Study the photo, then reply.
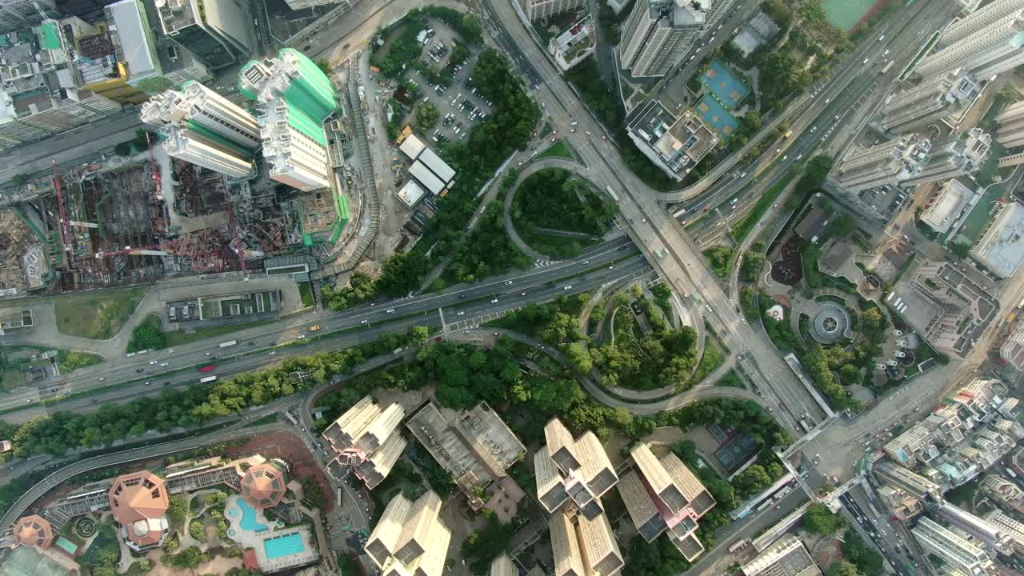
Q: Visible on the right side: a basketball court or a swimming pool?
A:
basketball court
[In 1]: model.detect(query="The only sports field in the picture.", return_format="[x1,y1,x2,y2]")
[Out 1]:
[819,0,884,34]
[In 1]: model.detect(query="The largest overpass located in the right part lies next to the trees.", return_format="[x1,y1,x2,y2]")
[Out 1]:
[577,134,706,290]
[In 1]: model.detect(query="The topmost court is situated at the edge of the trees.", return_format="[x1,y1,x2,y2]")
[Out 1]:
[700,59,751,109]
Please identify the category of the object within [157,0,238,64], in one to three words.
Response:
building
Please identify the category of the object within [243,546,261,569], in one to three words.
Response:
shed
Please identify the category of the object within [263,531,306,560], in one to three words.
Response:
swimming pool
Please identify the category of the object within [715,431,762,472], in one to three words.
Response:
basketball court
